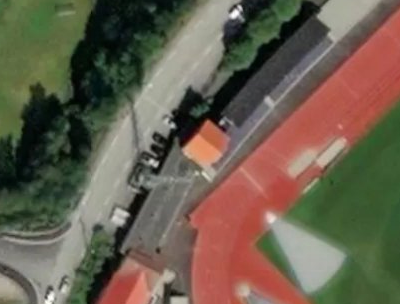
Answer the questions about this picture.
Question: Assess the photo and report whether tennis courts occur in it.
No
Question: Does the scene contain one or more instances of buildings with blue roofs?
No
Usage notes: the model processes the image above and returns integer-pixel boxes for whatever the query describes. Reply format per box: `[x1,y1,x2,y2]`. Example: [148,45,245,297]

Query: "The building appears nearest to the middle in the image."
[182,119,231,167]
